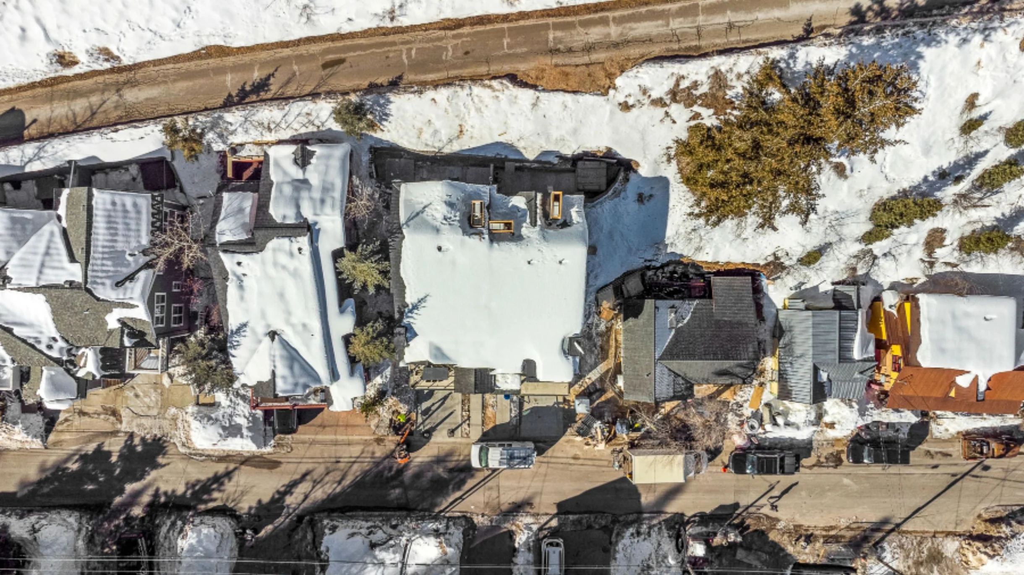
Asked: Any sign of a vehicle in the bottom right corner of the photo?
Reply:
Yes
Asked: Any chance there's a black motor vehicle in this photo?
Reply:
Yes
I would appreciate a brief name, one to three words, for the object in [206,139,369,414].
house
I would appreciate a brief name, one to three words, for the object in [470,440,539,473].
van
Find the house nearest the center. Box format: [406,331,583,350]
[390,180,589,396]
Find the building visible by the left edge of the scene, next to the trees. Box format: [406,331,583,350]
[0,162,193,413]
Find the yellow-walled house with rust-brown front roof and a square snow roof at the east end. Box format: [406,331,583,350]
[865,288,1024,416]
